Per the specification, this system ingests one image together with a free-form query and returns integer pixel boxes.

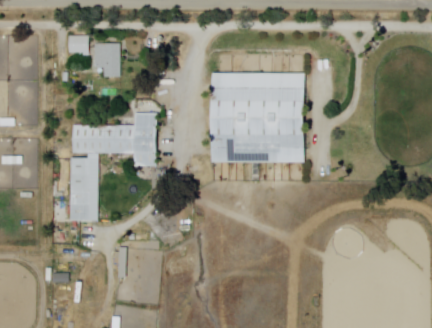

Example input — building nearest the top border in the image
[68,34,88,54]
